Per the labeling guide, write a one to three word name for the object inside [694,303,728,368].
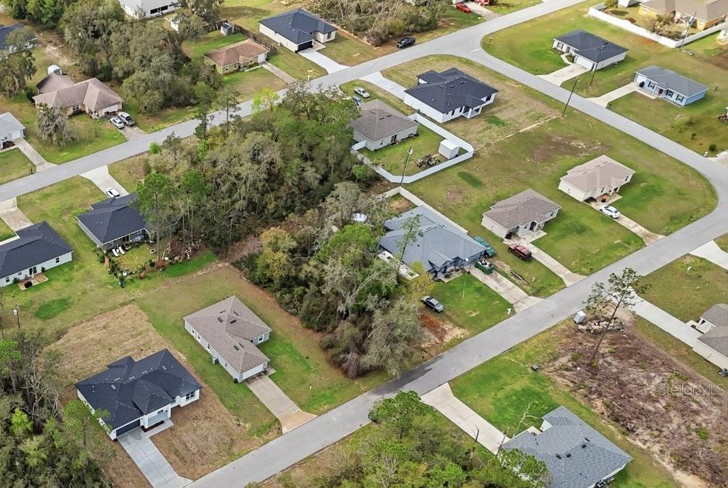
house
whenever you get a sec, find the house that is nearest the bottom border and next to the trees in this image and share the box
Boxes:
[502,405,632,488]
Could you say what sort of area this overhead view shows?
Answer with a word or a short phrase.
residential area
